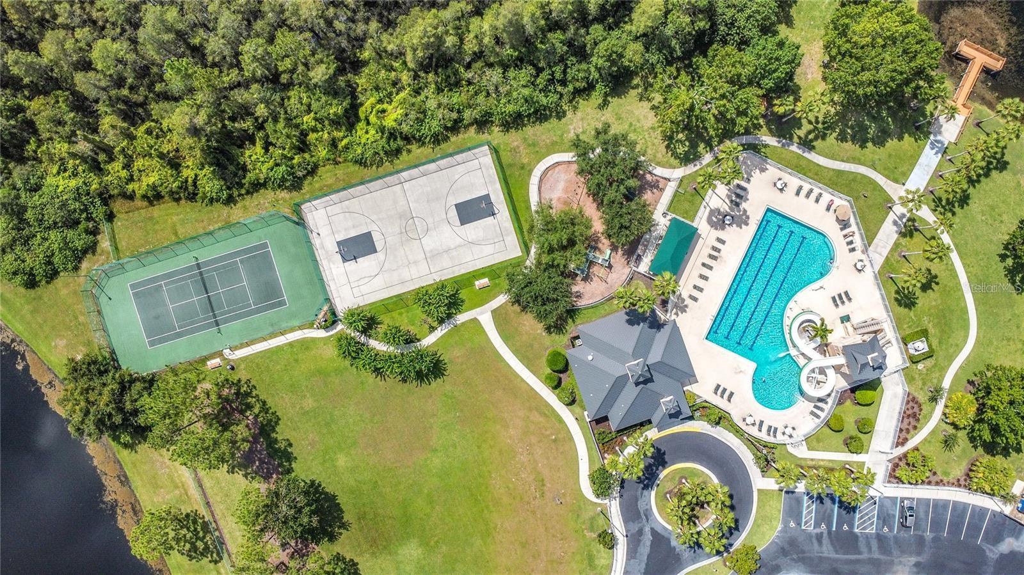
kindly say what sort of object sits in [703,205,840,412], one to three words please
swimming pool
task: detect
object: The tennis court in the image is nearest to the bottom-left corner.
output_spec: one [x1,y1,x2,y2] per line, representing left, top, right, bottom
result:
[93,209,329,373]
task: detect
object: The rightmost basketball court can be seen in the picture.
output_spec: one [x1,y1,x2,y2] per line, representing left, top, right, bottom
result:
[299,146,523,313]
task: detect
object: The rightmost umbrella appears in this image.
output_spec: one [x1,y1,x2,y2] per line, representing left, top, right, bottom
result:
[835,203,852,220]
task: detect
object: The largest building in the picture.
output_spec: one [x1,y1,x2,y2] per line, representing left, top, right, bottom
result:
[567,306,696,432]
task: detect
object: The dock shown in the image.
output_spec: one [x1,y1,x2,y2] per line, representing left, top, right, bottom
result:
[941,37,1011,142]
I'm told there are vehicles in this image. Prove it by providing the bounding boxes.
[899,499,917,530]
